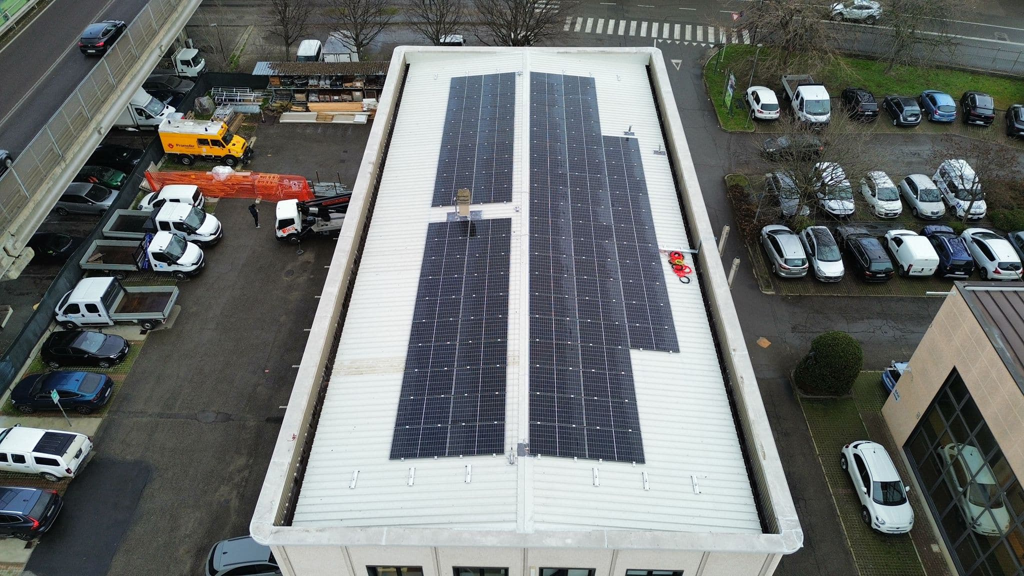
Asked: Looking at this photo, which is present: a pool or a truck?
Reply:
truck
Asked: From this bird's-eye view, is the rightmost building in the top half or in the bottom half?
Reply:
bottom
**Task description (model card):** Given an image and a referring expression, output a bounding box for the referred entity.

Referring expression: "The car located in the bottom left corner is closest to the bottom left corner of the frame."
[0,485,62,541]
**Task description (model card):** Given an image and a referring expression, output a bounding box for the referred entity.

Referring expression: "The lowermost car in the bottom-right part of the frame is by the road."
[841,445,913,541]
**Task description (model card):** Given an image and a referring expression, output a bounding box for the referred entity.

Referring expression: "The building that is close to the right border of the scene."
[885,283,1024,576]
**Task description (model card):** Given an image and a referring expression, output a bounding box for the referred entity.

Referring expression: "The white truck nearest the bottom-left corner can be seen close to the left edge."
[0,424,95,479]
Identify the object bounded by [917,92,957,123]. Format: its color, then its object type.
blue car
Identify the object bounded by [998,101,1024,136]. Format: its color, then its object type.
black car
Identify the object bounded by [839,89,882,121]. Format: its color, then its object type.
black car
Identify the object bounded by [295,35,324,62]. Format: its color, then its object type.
white vehicle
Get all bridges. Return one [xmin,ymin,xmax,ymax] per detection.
[0,0,226,328]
